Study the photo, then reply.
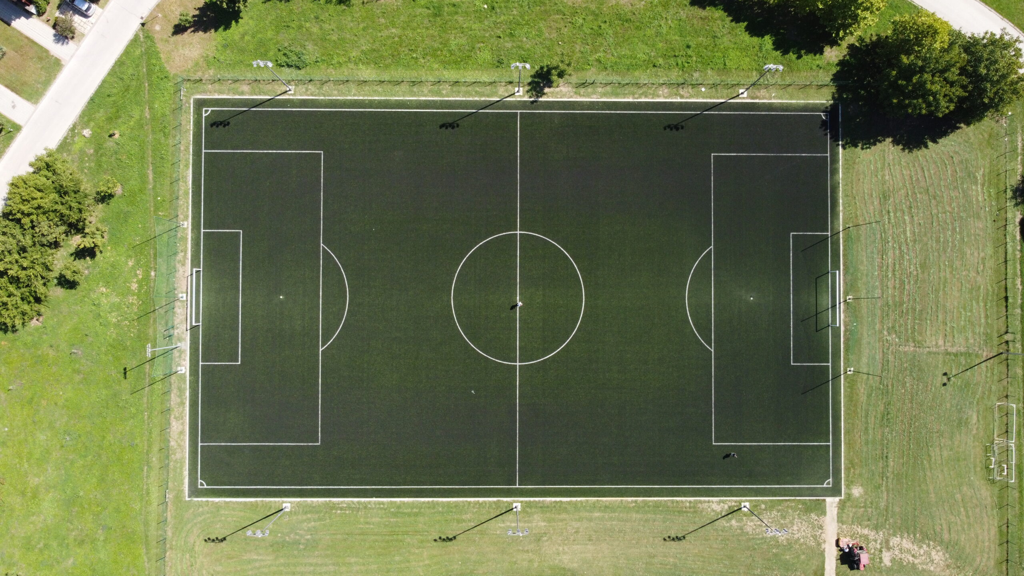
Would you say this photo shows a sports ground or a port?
sports ground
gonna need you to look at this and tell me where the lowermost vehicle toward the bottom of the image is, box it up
[837,536,872,567]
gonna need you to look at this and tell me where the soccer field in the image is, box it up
[187,97,843,500]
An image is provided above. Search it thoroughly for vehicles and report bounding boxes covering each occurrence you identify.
[837,536,872,567]
[64,0,97,17]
